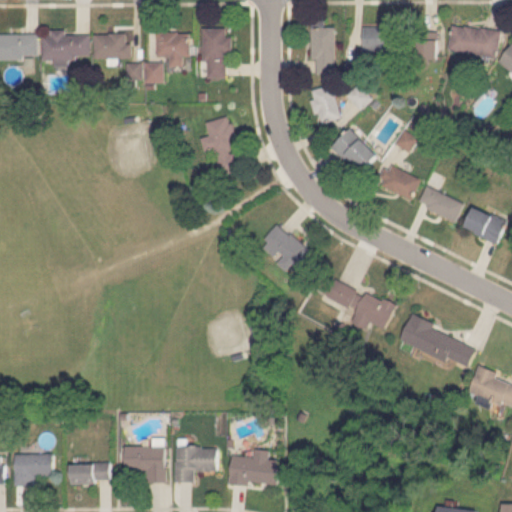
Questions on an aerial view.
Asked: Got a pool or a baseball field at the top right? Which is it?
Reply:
pool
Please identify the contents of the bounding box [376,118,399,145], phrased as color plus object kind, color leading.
blue swimming pool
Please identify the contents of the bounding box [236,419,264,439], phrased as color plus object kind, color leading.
blue swimming pool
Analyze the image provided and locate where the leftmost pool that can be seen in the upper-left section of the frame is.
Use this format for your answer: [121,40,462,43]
[4,66,24,86]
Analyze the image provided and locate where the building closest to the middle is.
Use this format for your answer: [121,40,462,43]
[264,226,306,272]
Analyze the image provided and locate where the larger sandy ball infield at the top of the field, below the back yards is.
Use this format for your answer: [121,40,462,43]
[108,116,156,178]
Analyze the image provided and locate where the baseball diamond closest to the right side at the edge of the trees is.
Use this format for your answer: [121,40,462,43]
[208,310,251,360]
